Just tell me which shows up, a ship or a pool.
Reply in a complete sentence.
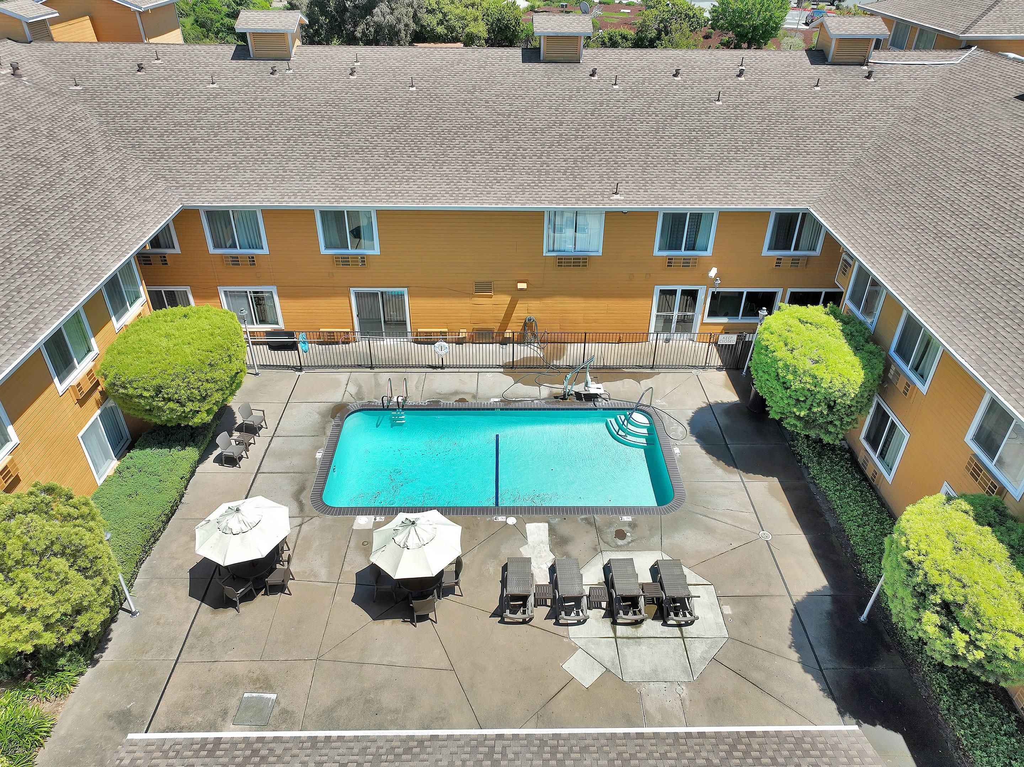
There is a pool in the scene.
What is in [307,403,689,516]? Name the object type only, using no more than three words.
swimming pool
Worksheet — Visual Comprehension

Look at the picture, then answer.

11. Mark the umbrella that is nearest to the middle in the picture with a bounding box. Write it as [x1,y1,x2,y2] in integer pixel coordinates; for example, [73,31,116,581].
[368,510,462,581]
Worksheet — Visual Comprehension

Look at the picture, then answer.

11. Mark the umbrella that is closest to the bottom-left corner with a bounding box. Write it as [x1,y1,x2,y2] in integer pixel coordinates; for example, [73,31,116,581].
[195,496,291,568]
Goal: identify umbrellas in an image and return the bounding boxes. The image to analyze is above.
[195,496,291,568]
[368,510,462,581]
